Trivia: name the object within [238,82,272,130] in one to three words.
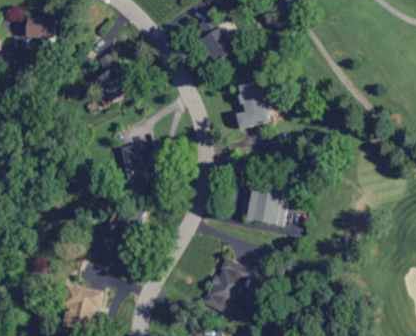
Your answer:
house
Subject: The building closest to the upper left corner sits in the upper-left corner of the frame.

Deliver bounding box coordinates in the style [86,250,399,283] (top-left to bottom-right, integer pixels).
[26,16,57,40]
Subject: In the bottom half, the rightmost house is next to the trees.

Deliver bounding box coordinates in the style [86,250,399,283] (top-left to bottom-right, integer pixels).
[246,190,288,228]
